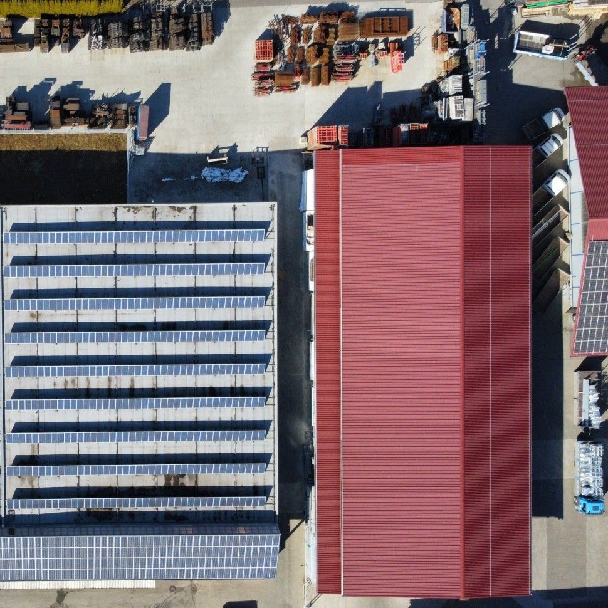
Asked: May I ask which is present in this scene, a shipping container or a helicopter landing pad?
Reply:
shipping container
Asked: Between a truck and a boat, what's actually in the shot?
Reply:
truck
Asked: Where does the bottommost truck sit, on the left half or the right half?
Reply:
right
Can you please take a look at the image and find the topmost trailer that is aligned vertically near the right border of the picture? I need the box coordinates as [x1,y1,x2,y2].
[574,373,602,440]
